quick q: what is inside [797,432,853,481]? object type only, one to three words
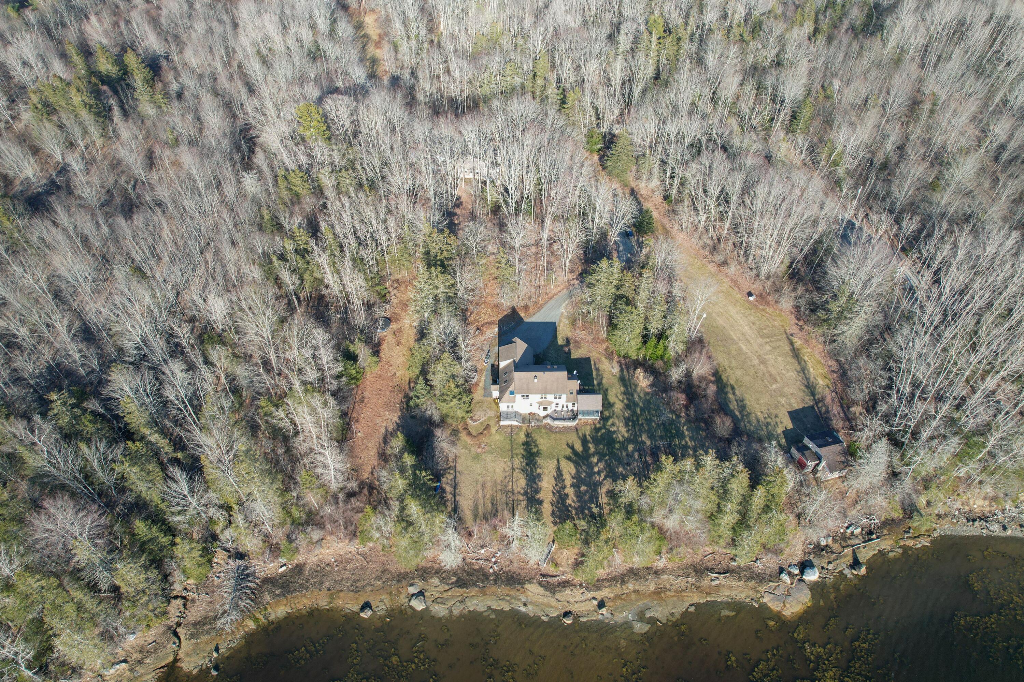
barn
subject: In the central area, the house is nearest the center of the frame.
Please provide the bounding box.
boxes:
[491,337,603,430]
